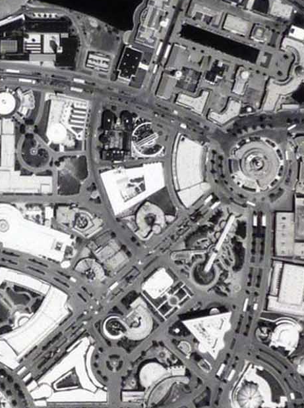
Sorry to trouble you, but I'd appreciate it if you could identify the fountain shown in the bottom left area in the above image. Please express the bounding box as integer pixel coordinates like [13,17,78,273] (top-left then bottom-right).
[13,311,32,327]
